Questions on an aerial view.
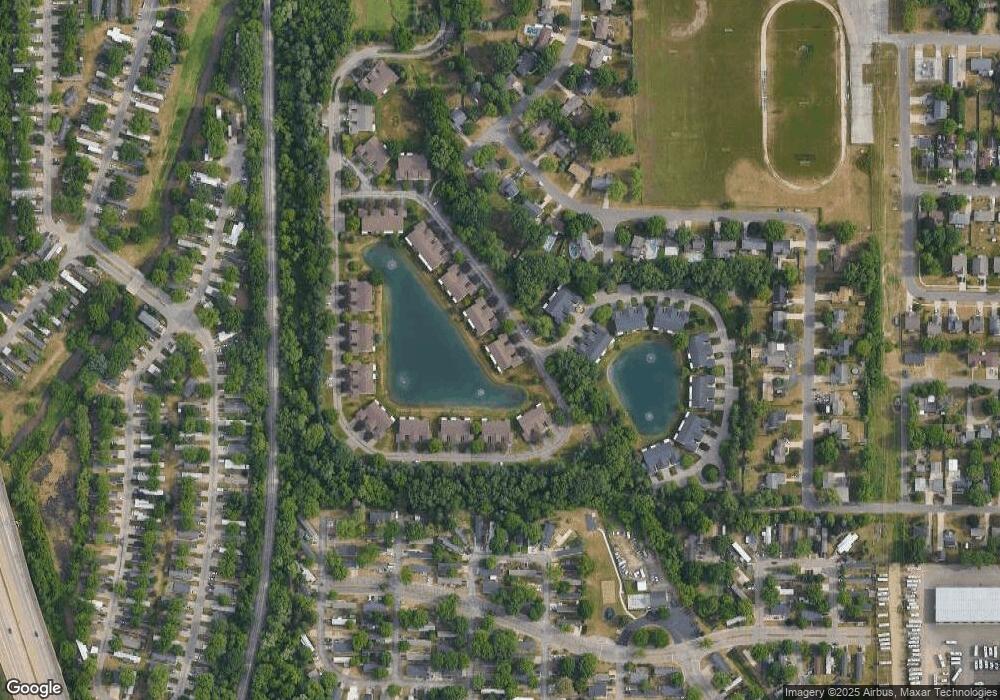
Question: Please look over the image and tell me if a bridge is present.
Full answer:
Yes, the image includes a bridge.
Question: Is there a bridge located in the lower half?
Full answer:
No, there's no bridge to be seen in the lower half.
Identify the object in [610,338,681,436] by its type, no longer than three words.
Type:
pond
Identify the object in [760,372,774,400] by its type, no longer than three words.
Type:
house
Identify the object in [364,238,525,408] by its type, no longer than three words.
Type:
pond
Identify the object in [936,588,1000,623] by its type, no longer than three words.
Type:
building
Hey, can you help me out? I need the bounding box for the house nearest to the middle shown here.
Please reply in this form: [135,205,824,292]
[485,333,523,374]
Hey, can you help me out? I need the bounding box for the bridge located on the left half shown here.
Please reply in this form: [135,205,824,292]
[111,258,152,298]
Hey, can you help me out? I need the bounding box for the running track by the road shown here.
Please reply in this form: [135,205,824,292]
[762,0,846,190]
